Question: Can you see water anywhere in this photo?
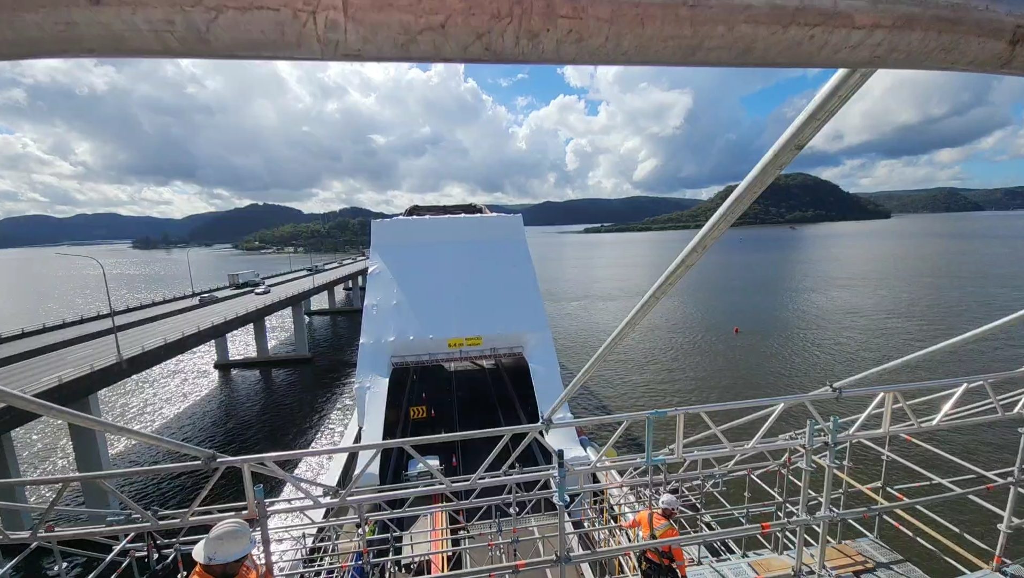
Yes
